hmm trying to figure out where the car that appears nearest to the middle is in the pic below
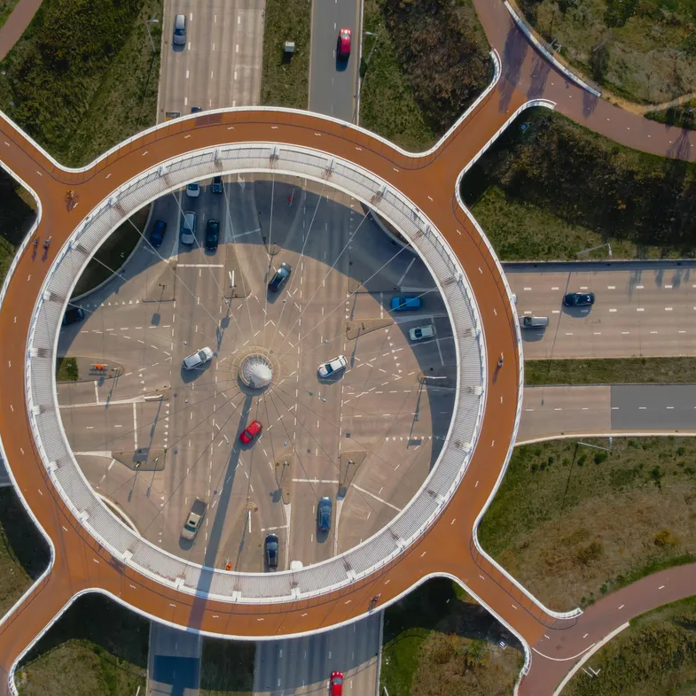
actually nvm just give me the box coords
[317,355,348,378]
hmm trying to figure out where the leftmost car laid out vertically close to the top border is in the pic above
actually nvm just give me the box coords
[172,13,187,47]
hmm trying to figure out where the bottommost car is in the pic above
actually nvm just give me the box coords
[329,669,344,696]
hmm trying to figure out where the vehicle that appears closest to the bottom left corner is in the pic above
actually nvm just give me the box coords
[182,497,207,542]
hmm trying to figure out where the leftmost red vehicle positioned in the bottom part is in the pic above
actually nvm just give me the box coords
[237,419,264,446]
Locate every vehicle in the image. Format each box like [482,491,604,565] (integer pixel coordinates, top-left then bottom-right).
[205,218,219,250]
[266,263,290,295]
[264,533,279,566]
[562,291,595,307]
[150,217,167,246]
[65,308,86,324]
[185,184,201,199]
[289,560,301,570]
[172,13,187,47]
[182,497,207,542]
[209,178,225,196]
[318,497,334,532]
[181,211,196,245]
[182,346,215,370]
[390,296,421,310]
[317,355,348,378]
[237,419,264,446]
[521,315,547,329]
[409,326,436,340]
[337,29,351,58]
[329,669,344,696]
